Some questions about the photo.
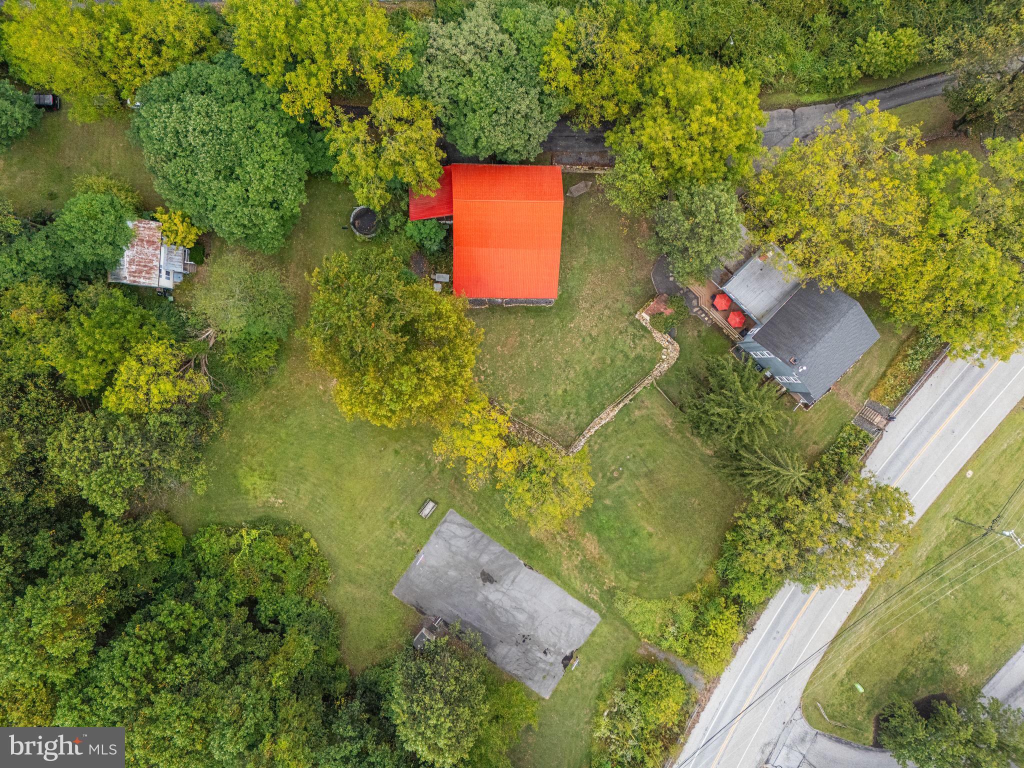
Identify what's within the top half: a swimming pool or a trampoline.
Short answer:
trampoline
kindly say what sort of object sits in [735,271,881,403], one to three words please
house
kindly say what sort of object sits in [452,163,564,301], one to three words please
barn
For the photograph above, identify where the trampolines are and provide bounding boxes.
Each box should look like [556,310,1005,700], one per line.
[347,207,379,235]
